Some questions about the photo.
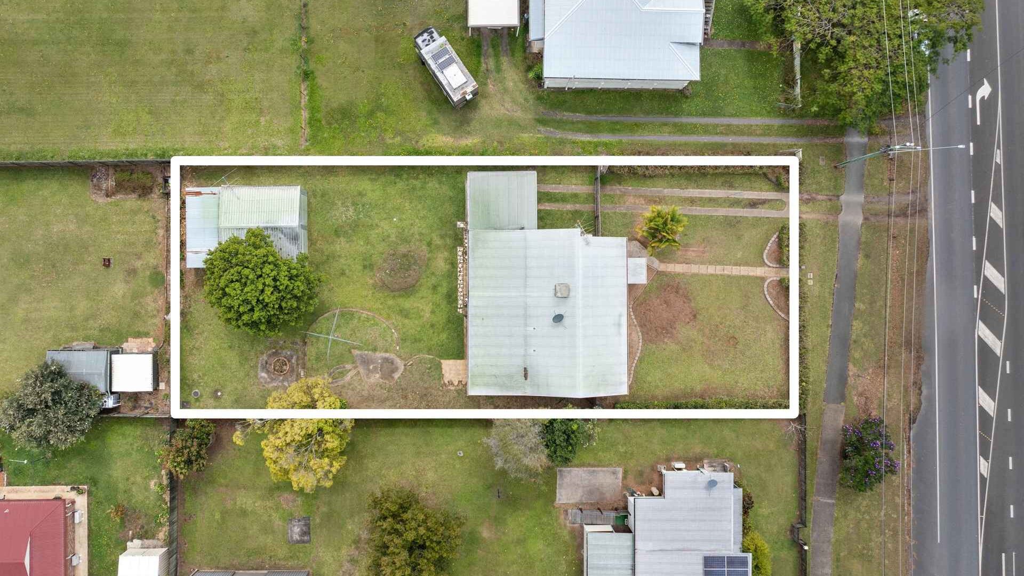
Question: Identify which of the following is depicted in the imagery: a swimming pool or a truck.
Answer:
truck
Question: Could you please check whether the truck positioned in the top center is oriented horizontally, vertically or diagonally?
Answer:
diagonally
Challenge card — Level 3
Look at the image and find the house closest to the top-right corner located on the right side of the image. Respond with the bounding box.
[542,0,705,93]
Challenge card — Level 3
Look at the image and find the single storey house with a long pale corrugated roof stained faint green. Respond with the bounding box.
[466,228,630,398]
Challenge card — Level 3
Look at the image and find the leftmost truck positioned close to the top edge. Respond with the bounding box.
[413,26,481,111]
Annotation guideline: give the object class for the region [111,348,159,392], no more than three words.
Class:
shed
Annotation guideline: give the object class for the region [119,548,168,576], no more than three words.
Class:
shed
